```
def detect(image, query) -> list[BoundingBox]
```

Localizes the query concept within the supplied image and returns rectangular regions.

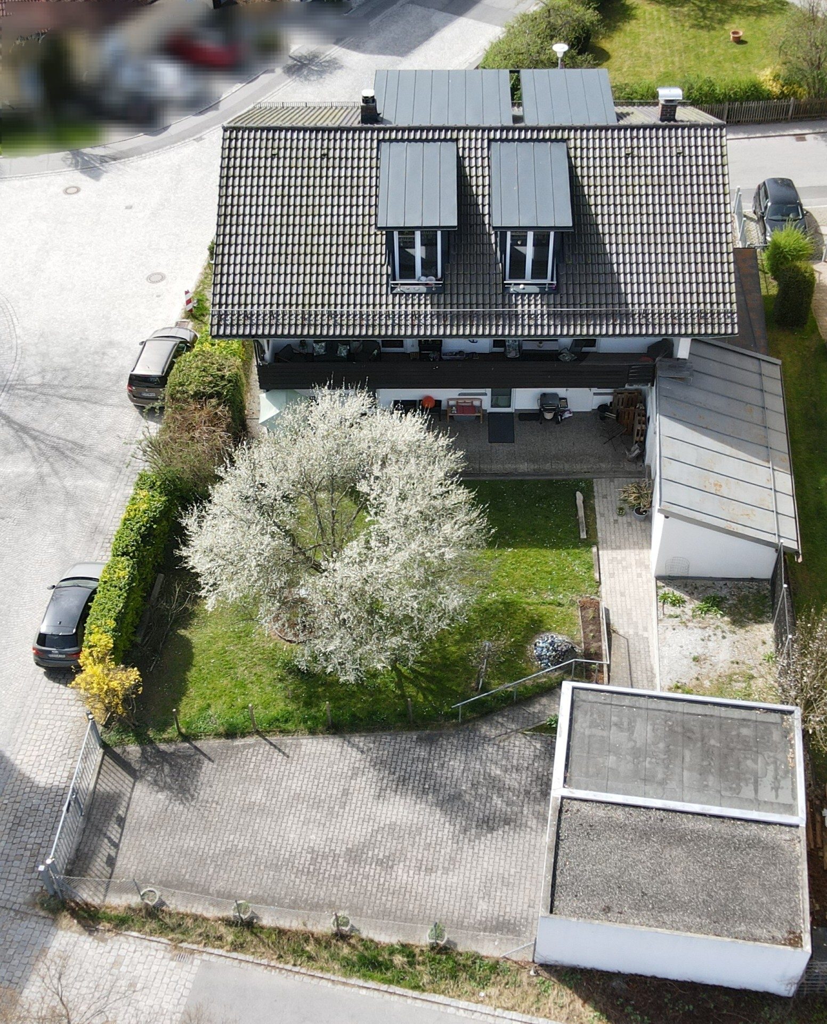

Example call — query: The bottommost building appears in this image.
[535,794,812,1000]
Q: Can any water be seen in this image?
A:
No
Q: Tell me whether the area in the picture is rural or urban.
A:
urban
